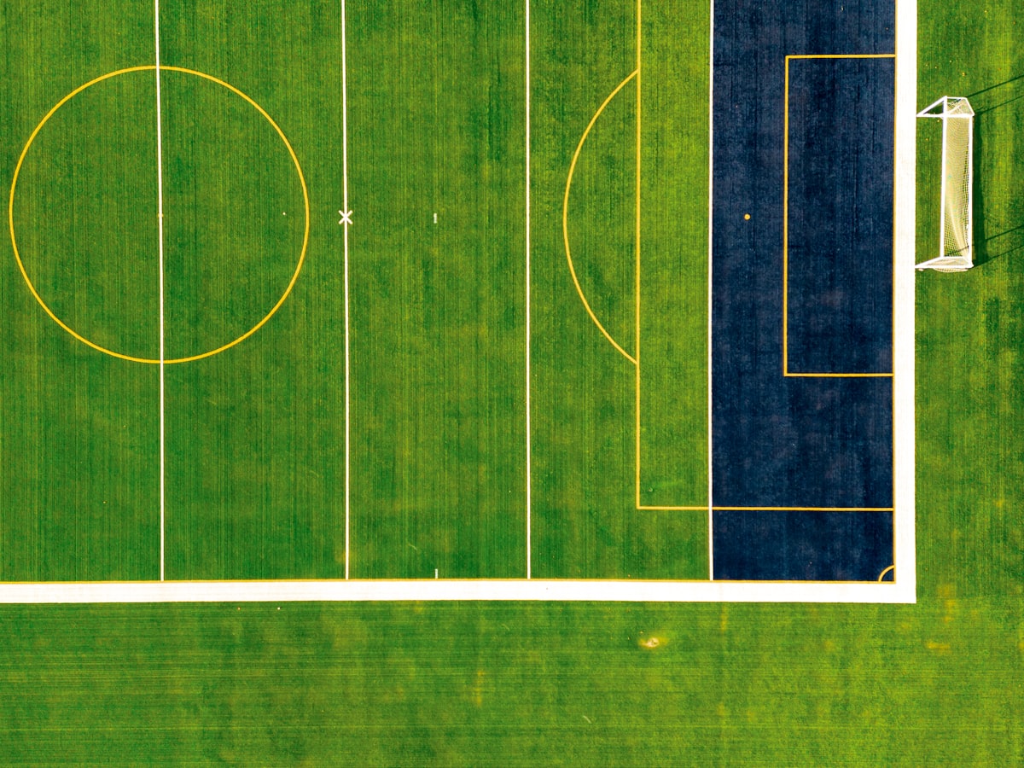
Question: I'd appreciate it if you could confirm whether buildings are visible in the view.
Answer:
No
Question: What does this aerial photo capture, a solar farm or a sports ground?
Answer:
sports ground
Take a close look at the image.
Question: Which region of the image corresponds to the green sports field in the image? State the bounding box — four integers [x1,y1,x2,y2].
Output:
[0,0,897,584]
